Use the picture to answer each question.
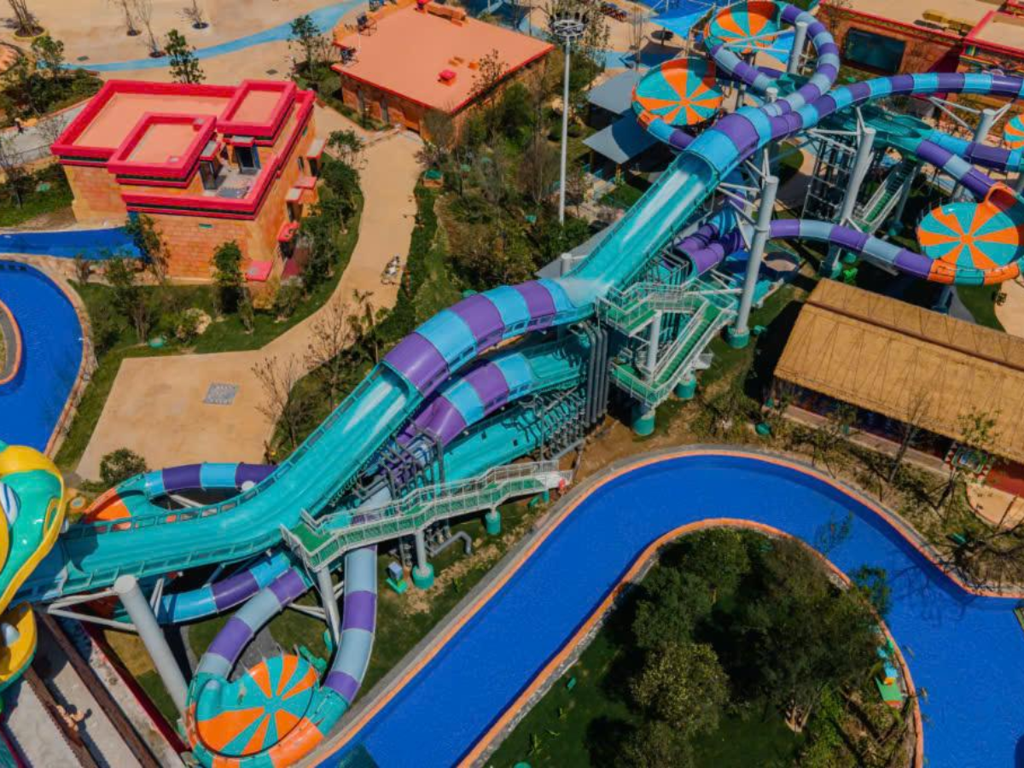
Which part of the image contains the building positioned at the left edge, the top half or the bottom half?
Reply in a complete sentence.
It is in the top half that the building positioned at the left edge appears.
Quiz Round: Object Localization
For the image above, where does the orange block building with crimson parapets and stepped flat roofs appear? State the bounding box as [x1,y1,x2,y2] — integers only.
[45,80,332,295]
